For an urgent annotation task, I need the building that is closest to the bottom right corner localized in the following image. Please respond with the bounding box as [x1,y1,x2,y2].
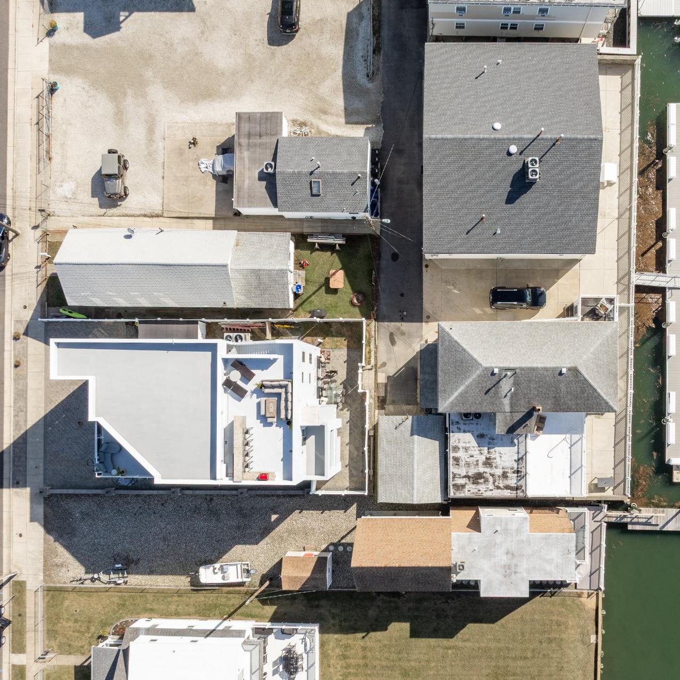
[451,504,576,596]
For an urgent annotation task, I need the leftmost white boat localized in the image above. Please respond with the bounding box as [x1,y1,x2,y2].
[198,562,257,585]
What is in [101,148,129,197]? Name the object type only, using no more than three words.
car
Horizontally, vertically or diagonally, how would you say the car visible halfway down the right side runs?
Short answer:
horizontally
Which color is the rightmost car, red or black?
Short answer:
black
